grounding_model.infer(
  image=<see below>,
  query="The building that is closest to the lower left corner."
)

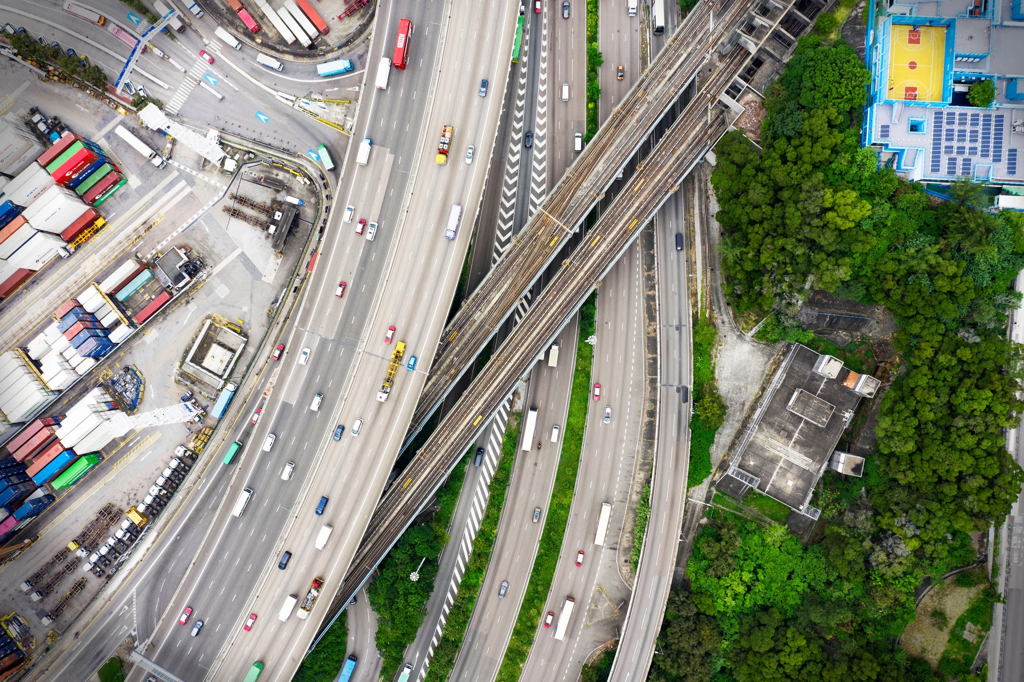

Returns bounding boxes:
[180,320,253,397]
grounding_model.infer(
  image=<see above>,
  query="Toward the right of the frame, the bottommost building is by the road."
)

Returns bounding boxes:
[716,344,881,532]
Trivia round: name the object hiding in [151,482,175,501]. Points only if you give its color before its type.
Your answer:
white vehicle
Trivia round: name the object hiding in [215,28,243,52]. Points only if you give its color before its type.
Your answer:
white truck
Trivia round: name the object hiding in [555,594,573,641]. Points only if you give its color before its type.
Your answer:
white vehicle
